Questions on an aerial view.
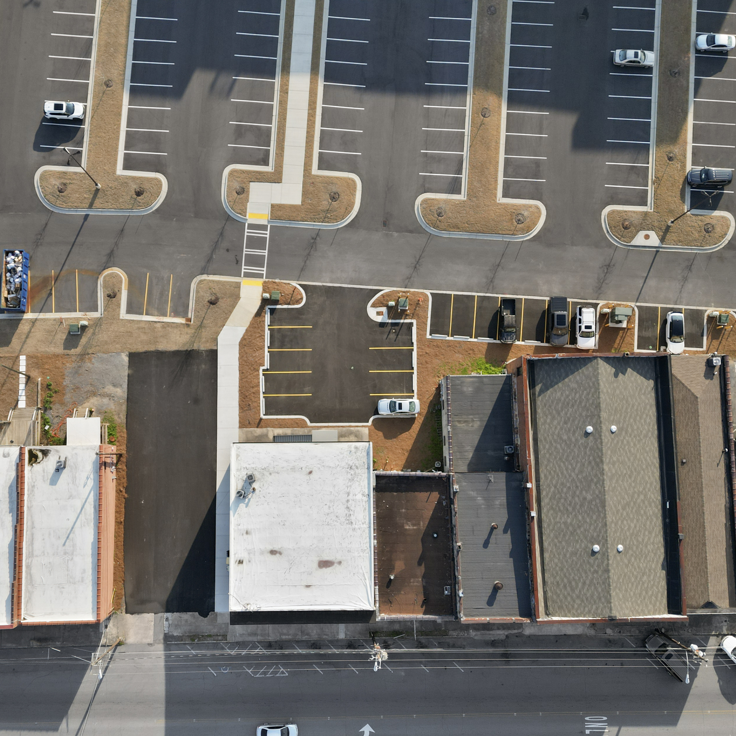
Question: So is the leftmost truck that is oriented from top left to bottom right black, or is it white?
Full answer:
In this view, the leftmost truck that is oriented from top left to bottom right is black.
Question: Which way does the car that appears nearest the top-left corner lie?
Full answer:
The car that appears nearest the top-left corner has been laid out horizontally relative to the frame.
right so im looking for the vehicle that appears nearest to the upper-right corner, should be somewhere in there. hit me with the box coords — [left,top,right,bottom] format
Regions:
[692,33,736,54]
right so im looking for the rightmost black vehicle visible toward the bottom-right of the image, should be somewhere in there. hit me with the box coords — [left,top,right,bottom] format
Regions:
[643,633,692,684]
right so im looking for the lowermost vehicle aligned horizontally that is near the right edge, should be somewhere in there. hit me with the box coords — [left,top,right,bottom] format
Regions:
[686,168,731,189]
